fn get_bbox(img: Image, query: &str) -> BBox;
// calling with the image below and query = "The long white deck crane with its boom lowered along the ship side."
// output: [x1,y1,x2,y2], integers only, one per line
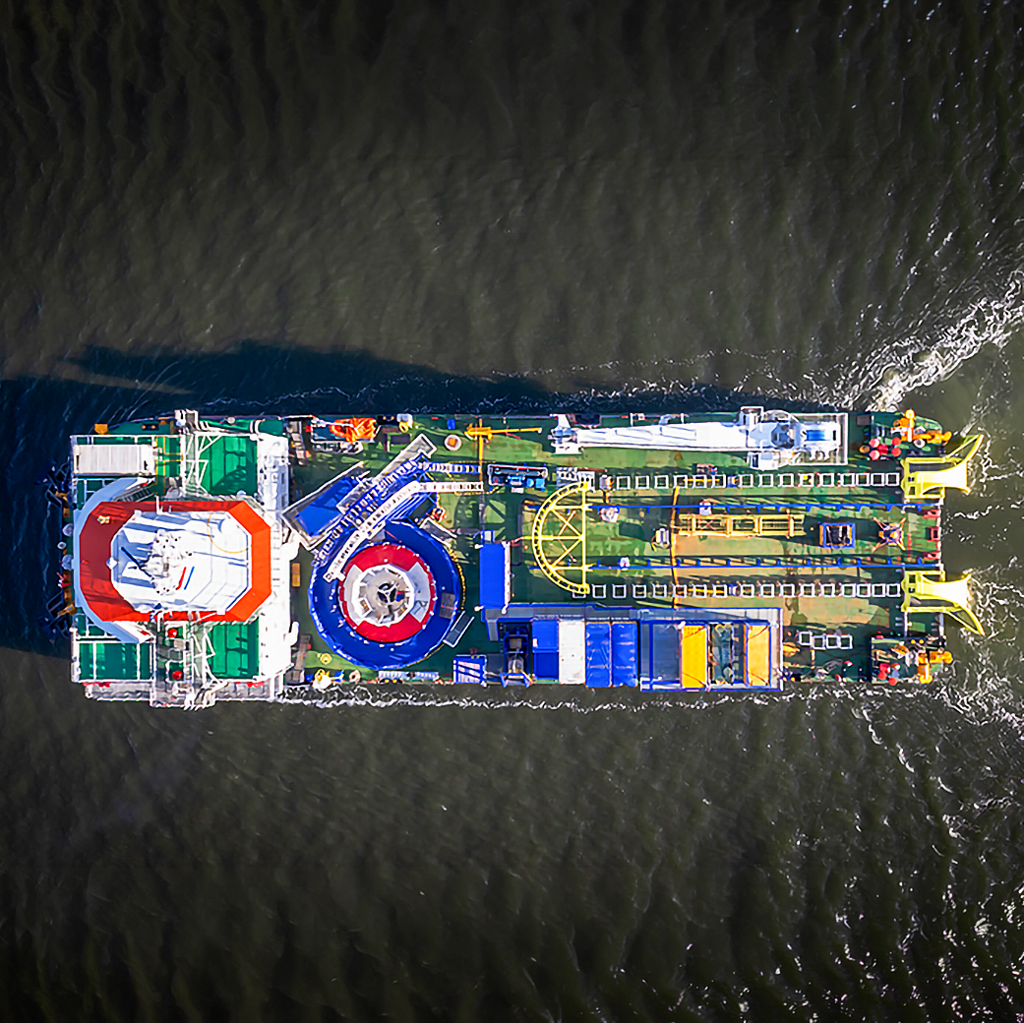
[577,405,840,471]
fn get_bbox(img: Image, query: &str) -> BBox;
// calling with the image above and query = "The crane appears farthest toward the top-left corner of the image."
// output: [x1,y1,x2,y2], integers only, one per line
[465,418,542,531]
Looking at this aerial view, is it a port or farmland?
port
